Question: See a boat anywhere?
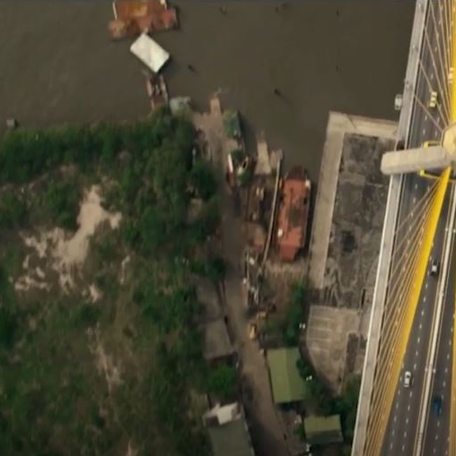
Yes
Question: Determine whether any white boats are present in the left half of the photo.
Yes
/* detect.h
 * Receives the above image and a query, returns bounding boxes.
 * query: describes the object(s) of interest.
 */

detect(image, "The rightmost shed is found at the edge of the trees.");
[304,416,343,445]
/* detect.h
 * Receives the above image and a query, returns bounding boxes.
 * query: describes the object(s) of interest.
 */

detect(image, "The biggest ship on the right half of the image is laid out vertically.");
[276,166,313,261]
